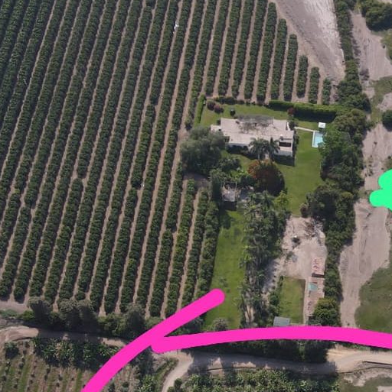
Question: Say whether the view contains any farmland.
Yes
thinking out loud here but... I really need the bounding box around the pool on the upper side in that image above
[312,131,325,147]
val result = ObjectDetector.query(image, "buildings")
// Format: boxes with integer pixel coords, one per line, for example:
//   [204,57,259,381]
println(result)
[274,317,290,329]
[223,191,237,204]
[212,118,293,158]
[311,258,325,276]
